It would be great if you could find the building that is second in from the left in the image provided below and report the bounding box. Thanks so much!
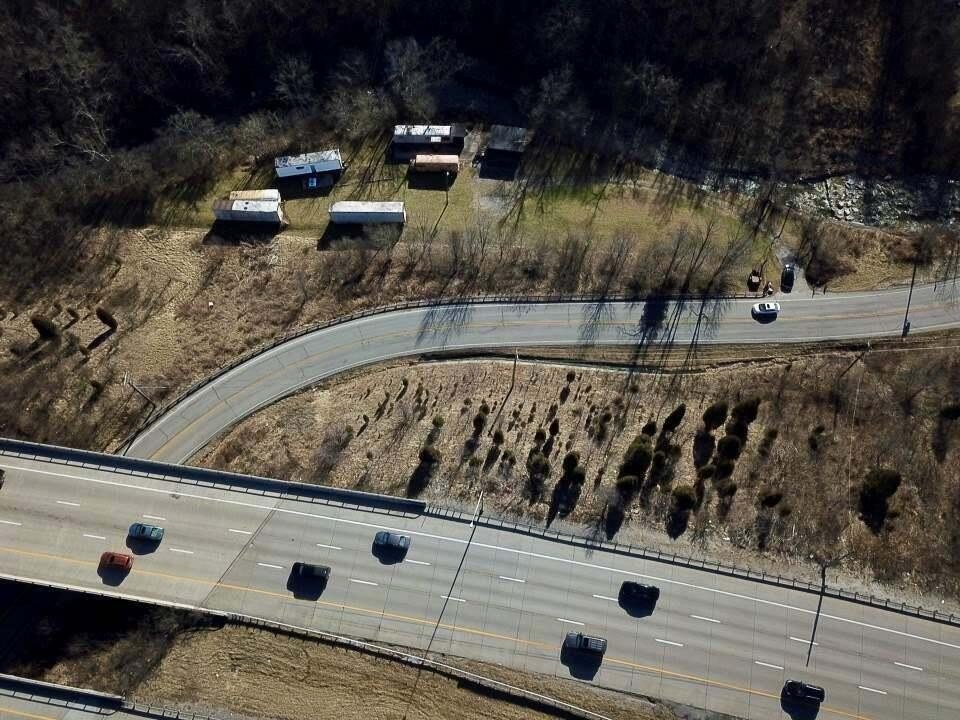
[393,124,467,148]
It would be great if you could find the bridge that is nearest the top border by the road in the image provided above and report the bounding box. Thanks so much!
[0,439,427,618]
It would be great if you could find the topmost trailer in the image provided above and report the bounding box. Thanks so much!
[411,155,458,174]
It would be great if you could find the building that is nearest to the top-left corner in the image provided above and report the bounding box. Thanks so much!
[274,149,342,181]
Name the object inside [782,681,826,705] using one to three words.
car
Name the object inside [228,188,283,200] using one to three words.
vehicle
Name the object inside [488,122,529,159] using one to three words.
building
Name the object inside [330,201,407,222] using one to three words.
trailer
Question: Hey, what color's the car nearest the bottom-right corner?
black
